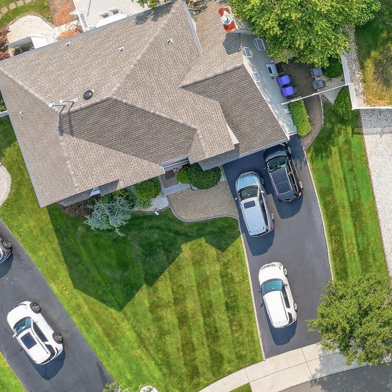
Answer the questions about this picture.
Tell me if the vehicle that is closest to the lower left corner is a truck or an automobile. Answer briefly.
automobile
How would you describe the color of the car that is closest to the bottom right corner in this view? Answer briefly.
white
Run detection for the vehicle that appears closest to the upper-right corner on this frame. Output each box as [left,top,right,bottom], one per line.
[264,139,305,206]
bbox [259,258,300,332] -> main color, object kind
white car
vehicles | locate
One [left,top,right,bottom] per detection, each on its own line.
[12,296,65,367]
[0,241,10,265]
[236,168,276,239]
[259,258,300,332]
[264,139,305,206]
